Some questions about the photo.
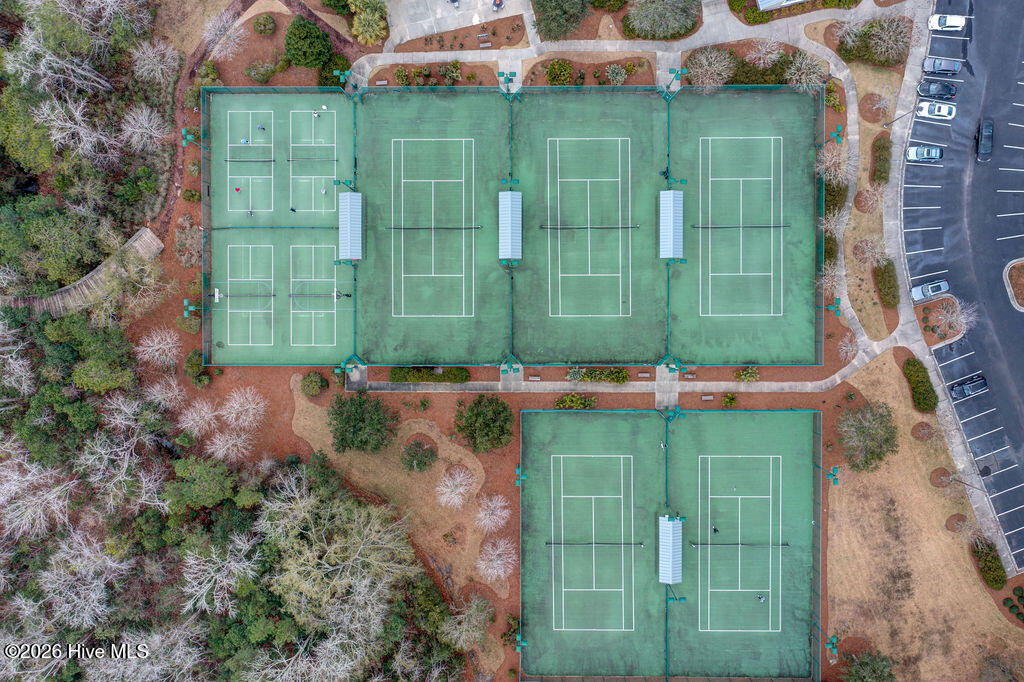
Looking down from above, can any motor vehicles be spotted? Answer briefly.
Yes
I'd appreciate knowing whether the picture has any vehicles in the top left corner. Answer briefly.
No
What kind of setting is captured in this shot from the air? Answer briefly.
sports ground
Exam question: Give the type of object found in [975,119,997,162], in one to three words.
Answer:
car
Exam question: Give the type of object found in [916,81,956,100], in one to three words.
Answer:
car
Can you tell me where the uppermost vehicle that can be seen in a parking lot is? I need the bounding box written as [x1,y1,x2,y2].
[927,12,965,32]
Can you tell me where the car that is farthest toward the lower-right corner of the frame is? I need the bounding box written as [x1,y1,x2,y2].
[949,376,990,400]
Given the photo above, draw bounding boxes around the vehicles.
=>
[905,144,944,163]
[927,12,965,32]
[975,119,997,162]
[949,376,990,400]
[911,280,950,300]
[916,101,956,120]
[916,81,956,100]
[921,56,962,76]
